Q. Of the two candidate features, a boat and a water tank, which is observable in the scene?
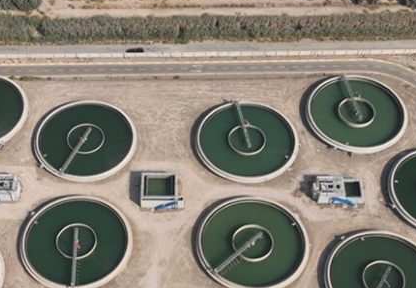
water tank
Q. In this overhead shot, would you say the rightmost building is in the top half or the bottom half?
bottom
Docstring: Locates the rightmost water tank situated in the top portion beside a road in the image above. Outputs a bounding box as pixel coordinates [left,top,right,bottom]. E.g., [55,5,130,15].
[307,73,406,156]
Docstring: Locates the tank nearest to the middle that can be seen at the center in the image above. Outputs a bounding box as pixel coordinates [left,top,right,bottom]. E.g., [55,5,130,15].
[198,99,301,183]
